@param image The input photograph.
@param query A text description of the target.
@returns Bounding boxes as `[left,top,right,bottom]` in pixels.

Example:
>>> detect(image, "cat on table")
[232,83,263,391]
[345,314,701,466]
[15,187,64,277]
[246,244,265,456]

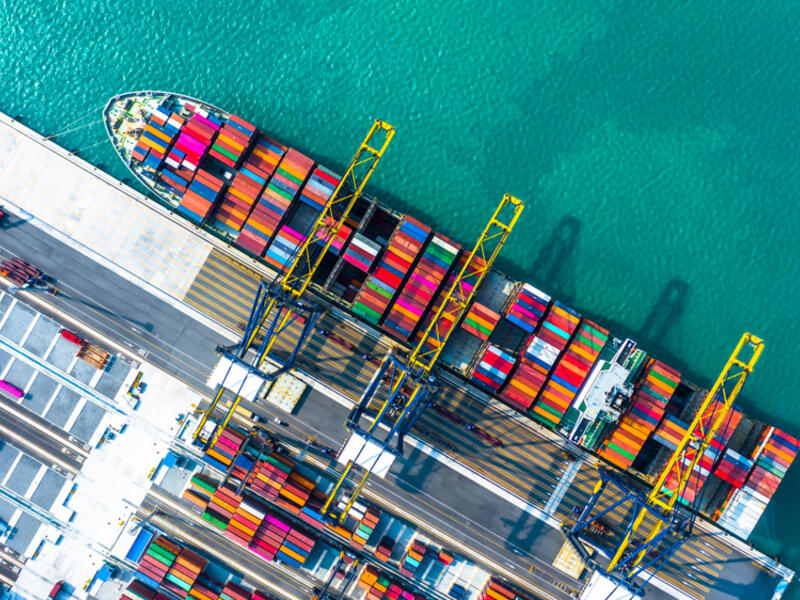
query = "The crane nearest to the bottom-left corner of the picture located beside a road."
[220,428,274,495]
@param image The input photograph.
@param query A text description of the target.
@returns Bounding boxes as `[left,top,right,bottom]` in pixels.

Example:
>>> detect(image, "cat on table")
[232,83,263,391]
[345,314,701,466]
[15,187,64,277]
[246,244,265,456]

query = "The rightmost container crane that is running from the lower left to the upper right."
[559,334,766,600]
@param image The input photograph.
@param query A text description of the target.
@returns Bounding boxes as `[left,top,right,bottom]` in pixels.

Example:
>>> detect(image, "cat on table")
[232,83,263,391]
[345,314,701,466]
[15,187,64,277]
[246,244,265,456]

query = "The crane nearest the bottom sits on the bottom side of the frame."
[313,538,362,600]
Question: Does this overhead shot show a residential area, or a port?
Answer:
port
